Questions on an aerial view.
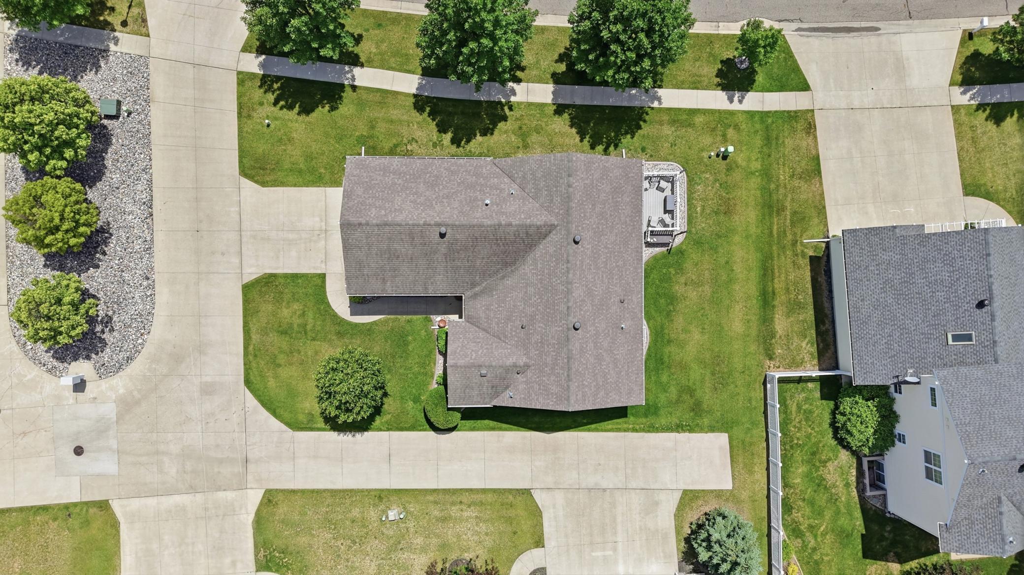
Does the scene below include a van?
No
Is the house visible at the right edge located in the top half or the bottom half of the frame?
bottom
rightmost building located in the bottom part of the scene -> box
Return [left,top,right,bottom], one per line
[803,222,1024,559]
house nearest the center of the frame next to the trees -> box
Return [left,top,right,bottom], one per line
[338,147,646,412]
